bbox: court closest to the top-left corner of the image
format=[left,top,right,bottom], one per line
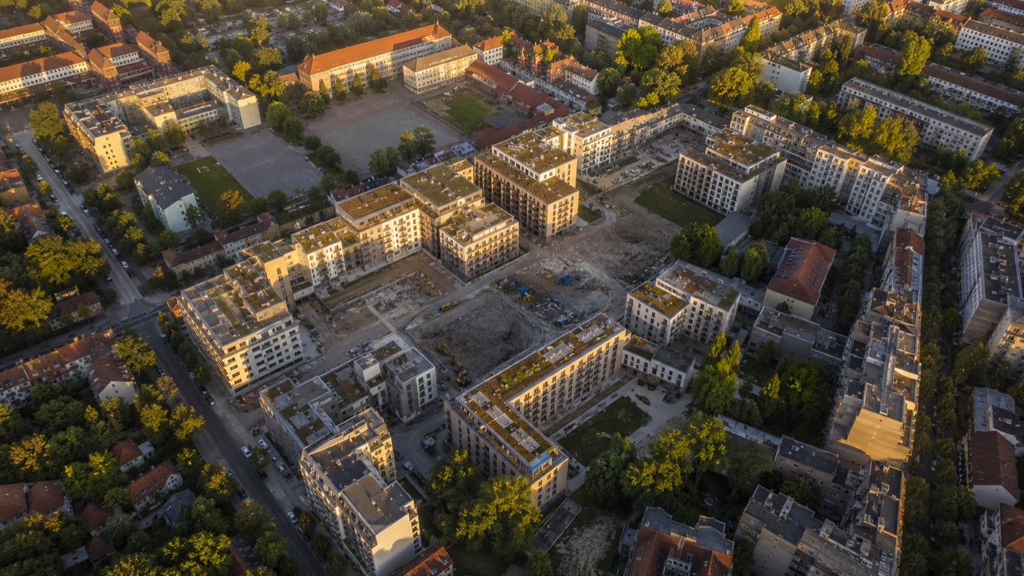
[207,130,317,195]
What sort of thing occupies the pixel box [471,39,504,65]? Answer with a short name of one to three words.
house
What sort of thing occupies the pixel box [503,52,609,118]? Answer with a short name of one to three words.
house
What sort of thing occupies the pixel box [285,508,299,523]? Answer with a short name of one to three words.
car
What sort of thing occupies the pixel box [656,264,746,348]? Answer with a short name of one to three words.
building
